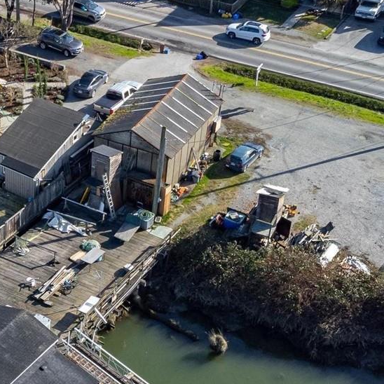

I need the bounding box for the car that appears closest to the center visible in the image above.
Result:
[218,143,271,174]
